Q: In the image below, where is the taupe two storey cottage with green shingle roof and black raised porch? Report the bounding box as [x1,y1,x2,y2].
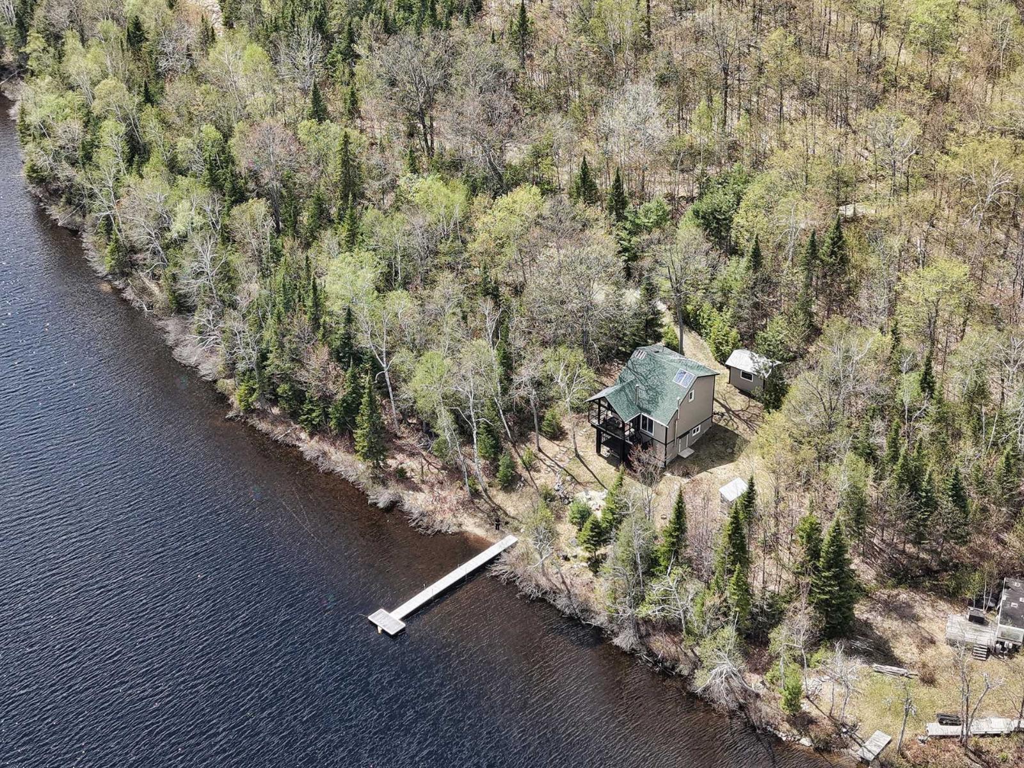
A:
[585,344,720,472]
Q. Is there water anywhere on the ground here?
Yes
